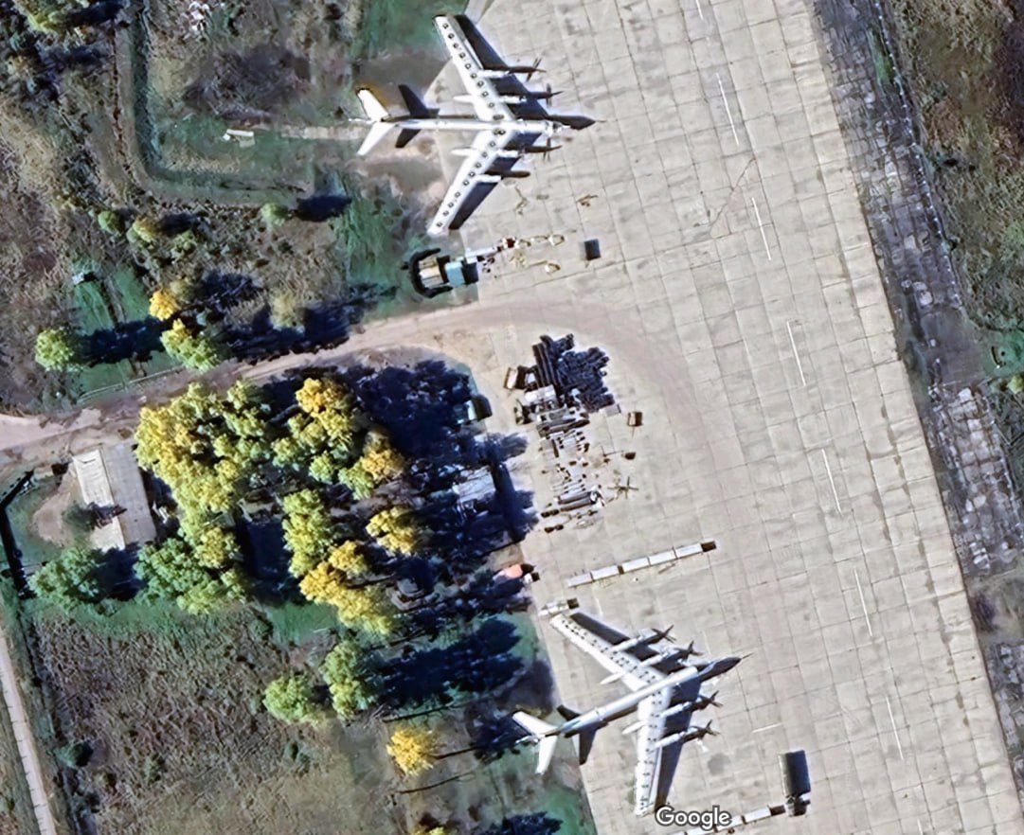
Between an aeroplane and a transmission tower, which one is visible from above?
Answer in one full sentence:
It is an aeroplane that can be seen here.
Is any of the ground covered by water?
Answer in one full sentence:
No, the scene doesn't show any water.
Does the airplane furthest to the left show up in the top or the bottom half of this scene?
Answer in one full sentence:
It is in the top half that the airplane furthest to the left appears.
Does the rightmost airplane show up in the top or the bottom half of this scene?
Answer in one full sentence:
The rightmost airplane sits in the bottom half of the picture.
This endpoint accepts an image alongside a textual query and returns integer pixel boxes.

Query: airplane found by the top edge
[348,17,572,231]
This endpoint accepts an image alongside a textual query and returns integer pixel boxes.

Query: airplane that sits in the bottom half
[511,611,732,818]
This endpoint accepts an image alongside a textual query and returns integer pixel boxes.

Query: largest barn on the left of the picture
[73,443,155,552]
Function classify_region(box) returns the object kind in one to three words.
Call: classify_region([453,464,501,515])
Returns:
shed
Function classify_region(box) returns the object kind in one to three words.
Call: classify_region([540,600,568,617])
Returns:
vehicle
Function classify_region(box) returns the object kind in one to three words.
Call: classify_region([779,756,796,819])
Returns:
vehicle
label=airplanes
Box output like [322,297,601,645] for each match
[348,17,572,231]
[511,611,732,818]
